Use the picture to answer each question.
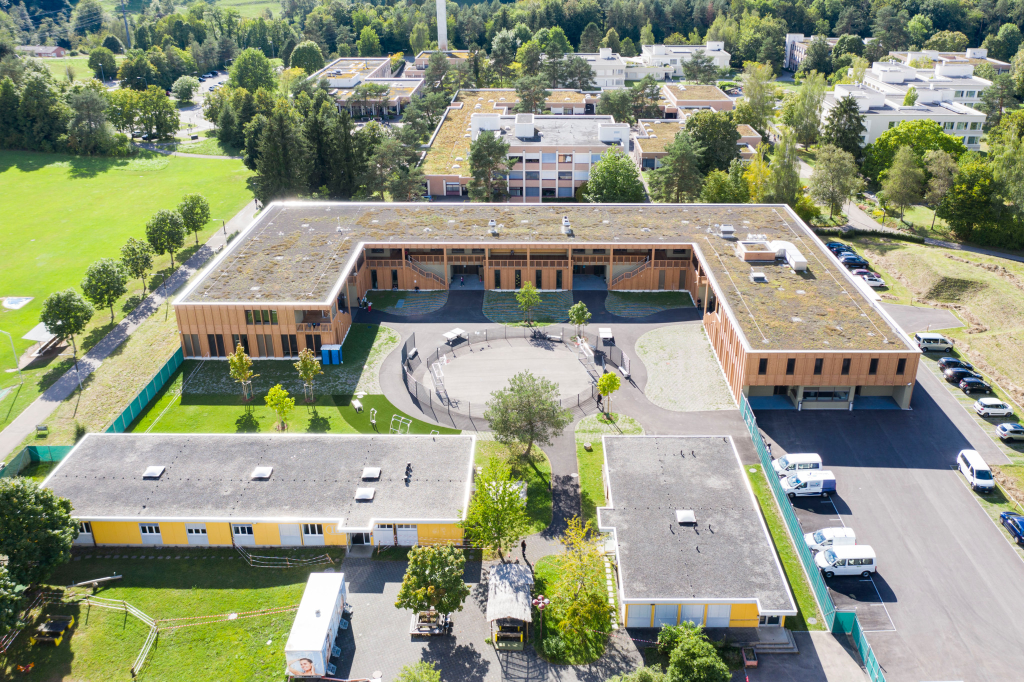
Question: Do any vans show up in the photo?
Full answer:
Yes, looking at the shot, I can spot a van.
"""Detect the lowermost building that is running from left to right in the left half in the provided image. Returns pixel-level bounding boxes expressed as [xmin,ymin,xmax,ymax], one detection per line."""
[32,434,475,572]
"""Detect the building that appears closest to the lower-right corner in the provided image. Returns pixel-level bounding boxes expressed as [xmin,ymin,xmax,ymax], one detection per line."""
[599,436,811,656]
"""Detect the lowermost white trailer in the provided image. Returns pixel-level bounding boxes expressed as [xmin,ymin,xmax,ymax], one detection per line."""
[284,571,354,681]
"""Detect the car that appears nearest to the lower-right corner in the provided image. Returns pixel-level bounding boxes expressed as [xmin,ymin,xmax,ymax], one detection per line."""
[994,506,1024,541]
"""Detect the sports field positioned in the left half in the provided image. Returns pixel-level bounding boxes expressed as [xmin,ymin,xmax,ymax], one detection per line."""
[0,150,256,400]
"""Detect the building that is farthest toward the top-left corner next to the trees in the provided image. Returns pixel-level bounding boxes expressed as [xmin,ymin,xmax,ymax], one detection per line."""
[10,49,74,65]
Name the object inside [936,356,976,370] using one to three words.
car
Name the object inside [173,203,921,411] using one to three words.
building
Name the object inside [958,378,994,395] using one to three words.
car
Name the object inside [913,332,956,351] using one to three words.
vehicle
